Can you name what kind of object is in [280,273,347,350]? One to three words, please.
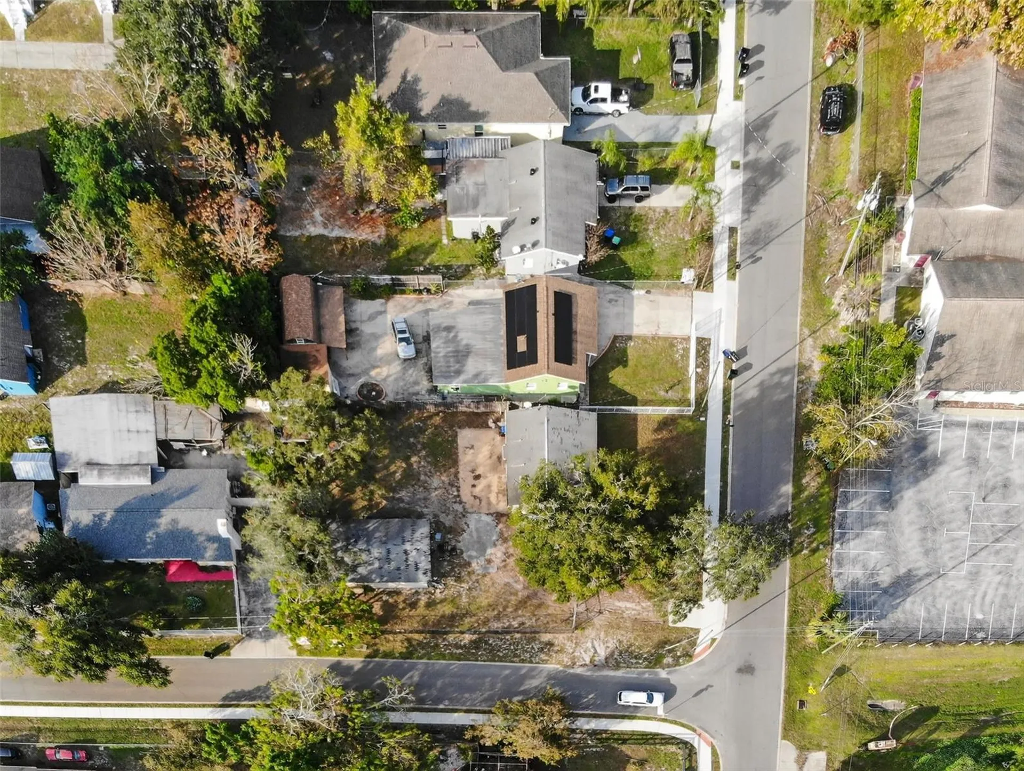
shed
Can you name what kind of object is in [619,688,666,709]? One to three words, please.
car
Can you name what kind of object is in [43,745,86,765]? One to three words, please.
car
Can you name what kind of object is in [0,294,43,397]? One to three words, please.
house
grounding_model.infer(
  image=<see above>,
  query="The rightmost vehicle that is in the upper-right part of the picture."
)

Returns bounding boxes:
[820,85,847,138]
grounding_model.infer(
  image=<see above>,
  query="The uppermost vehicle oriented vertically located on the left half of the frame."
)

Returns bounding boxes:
[391,314,417,362]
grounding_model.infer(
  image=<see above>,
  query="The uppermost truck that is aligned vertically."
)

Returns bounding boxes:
[671,36,696,99]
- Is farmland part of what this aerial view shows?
No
